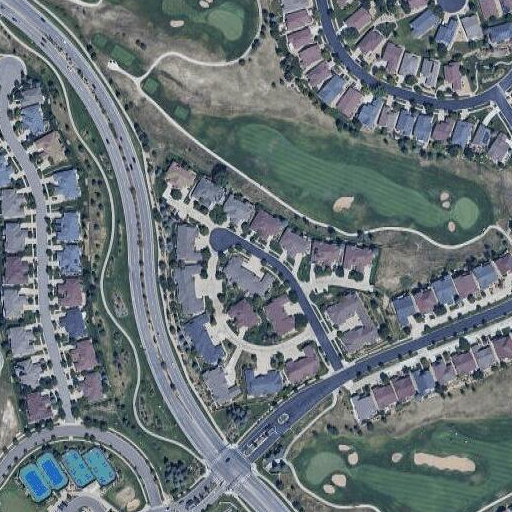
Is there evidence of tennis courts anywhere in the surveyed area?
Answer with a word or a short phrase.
Yes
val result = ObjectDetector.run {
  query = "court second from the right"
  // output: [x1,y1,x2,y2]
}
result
[60,448,95,487]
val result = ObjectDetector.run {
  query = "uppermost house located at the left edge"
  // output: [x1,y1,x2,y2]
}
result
[21,86,42,105]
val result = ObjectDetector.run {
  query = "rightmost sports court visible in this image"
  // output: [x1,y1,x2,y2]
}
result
[82,447,116,485]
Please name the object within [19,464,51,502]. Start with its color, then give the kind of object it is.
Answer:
blue tennis court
